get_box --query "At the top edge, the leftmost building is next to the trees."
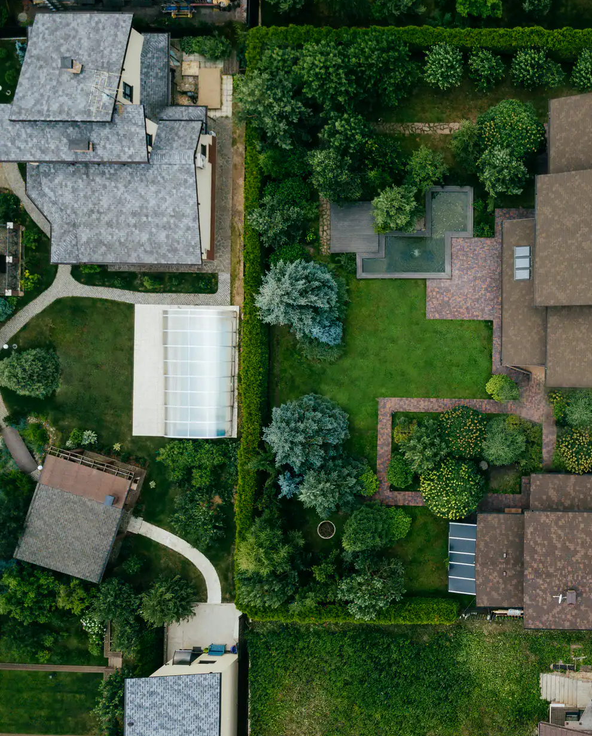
[0,12,220,266]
